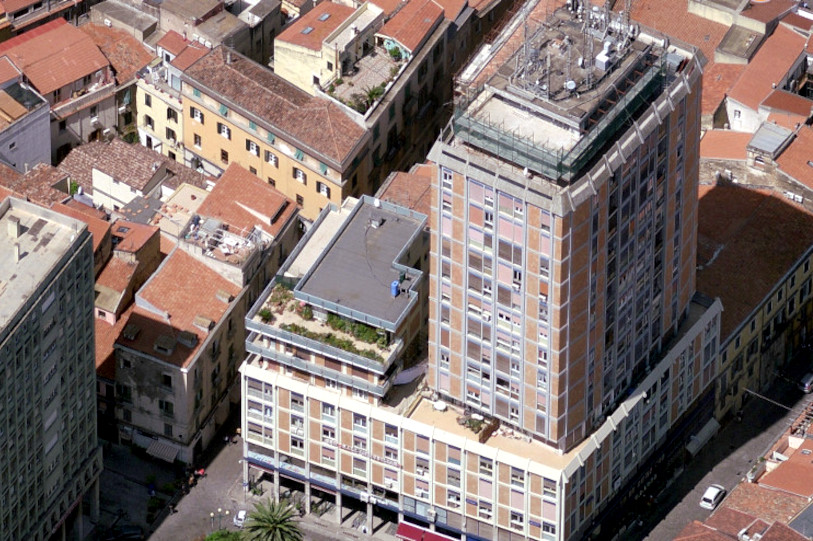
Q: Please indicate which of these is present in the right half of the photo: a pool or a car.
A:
car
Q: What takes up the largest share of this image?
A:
buildings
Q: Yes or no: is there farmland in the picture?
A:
No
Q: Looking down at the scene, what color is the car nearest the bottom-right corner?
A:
white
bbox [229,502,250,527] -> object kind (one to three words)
car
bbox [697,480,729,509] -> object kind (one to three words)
car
